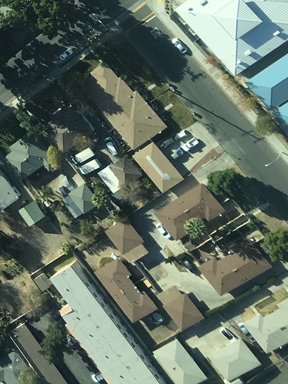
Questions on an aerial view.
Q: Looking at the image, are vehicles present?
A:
Yes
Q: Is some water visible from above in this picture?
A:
No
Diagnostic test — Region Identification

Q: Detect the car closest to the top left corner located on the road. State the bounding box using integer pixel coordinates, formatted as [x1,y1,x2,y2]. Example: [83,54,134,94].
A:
[59,48,74,61]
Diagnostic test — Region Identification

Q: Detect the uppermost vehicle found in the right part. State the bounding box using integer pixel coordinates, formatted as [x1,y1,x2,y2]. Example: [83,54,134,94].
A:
[172,37,188,53]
